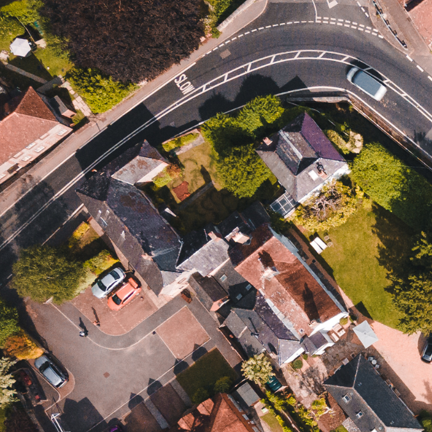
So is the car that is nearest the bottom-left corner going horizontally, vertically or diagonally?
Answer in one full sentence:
The car that is nearest the bottom-left corner is laid out diagonally.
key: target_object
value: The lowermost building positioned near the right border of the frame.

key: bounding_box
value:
[323,353,424,432]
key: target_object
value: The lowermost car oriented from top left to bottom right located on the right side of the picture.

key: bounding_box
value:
[345,64,388,101]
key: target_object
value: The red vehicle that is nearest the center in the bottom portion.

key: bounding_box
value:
[106,279,144,310]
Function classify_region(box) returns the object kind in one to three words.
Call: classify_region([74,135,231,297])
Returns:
house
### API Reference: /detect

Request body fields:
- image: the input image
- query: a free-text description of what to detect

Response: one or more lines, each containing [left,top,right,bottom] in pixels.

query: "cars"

[106,279,144,310]
[345,64,388,101]
[417,331,432,370]
[90,264,133,299]
[35,350,72,393]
